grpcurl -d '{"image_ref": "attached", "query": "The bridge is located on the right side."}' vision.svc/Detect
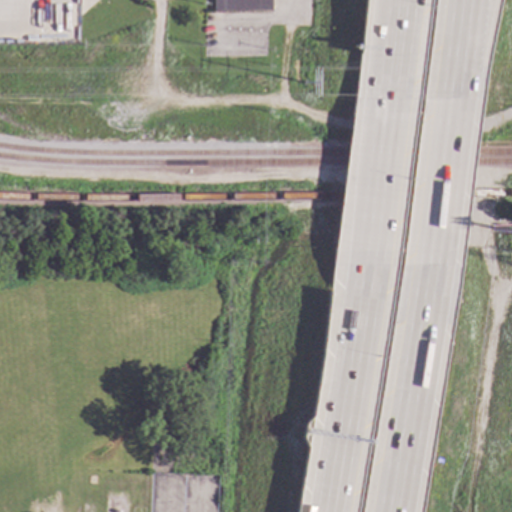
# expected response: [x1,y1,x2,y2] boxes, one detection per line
[302,0,505,512]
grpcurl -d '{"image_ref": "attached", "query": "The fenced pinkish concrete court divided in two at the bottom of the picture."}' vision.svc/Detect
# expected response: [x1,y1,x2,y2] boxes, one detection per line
[152,473,220,512]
